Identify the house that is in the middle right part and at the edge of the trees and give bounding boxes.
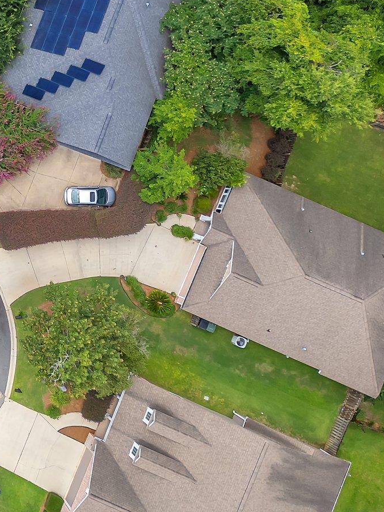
[176,172,384,399]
